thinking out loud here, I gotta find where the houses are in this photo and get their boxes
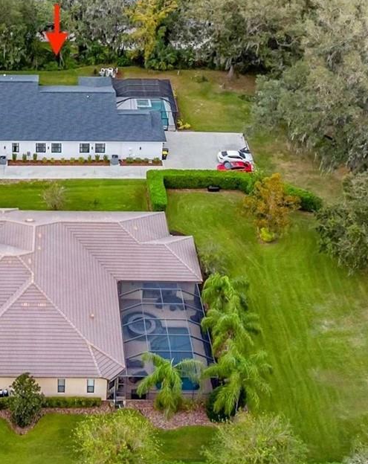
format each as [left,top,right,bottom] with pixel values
[0,204,203,396]
[0,74,165,165]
